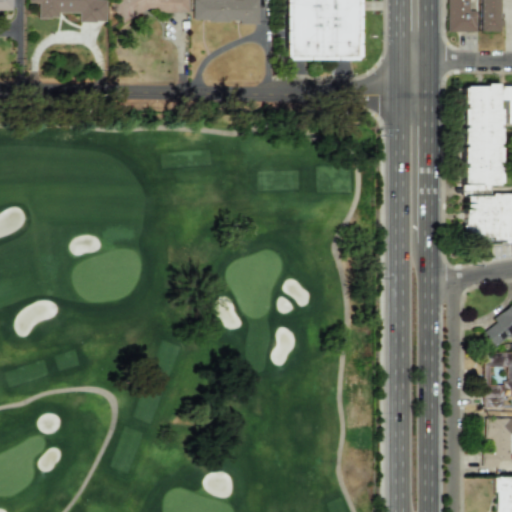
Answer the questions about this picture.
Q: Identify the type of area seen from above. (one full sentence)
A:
This looks like a golf course.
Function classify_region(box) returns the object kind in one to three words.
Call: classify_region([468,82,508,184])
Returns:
building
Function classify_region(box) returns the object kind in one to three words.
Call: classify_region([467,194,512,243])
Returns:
building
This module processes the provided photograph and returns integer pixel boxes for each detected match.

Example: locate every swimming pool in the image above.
[492,366,508,386]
